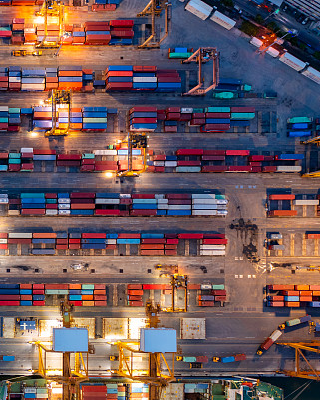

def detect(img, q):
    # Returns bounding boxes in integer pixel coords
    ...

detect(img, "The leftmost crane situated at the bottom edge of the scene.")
[30,299,88,400]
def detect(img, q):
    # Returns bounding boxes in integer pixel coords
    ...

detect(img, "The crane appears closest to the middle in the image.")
[117,134,147,180]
